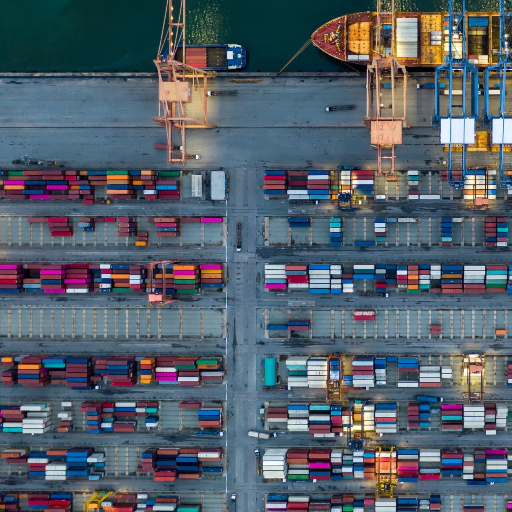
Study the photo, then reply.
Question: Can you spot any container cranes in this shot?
Yes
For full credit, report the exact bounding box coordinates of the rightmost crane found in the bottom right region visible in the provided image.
[462,349,486,402]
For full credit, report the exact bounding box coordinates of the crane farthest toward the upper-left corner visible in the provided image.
[154,0,223,166]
